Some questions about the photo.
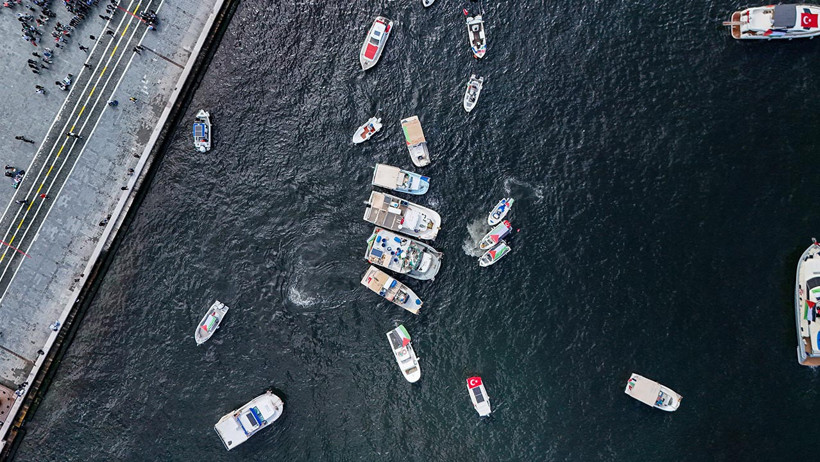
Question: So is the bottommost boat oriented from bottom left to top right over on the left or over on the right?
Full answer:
You can find the bottommost boat oriented from bottom left to top right on the left side of the picture.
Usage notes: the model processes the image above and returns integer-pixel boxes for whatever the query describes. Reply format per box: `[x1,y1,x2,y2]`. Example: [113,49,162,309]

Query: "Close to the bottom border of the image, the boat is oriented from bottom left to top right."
[215,392,286,450]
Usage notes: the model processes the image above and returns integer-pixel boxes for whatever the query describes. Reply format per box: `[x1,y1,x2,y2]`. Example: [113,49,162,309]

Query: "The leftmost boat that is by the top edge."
[362,16,392,70]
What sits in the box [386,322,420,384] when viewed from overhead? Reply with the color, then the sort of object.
white boat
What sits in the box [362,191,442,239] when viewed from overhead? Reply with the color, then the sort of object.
white boat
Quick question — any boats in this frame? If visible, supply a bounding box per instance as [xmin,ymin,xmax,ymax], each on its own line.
[480,220,512,249]
[465,74,483,112]
[488,197,511,225]
[621,372,681,409]
[386,322,420,384]
[362,16,392,70]
[194,109,212,152]
[790,237,820,365]
[361,265,424,313]
[215,392,286,450]
[196,301,229,345]
[372,164,431,192]
[722,3,820,42]
[401,115,427,167]
[467,375,491,417]
[362,191,442,239]
[353,118,381,143]
[365,226,445,281]
[465,16,487,58]
[480,241,511,266]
